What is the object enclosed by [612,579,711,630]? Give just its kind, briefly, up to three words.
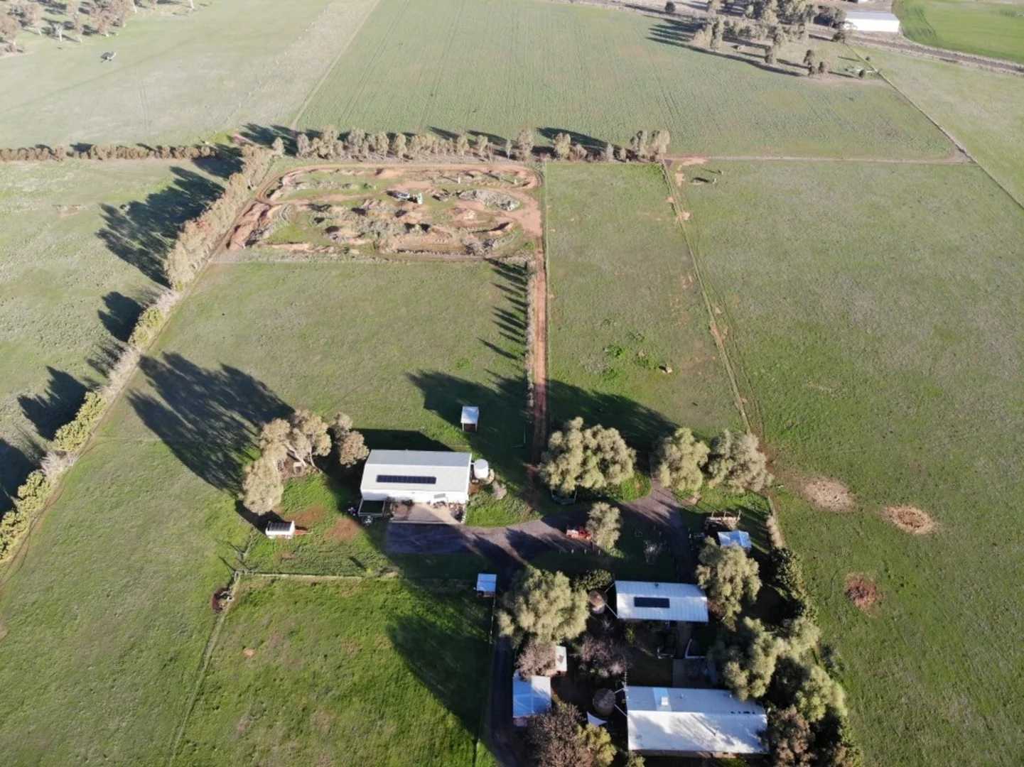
house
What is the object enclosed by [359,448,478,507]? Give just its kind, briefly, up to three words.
barn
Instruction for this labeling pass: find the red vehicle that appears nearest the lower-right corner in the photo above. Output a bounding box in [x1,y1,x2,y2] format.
[562,524,589,541]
